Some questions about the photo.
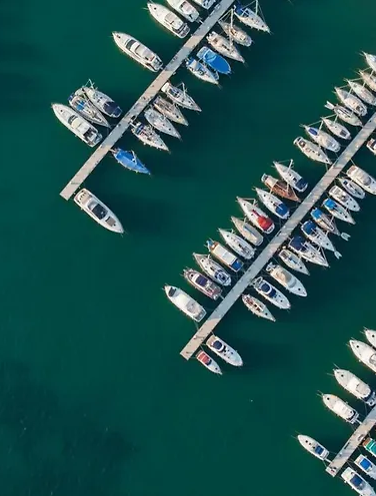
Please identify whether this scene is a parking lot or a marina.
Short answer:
marina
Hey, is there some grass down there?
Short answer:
No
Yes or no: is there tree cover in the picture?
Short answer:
No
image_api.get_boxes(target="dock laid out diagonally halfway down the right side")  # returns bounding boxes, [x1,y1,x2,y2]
[180,111,376,361]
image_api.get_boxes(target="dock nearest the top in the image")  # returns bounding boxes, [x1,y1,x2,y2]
[60,0,235,201]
